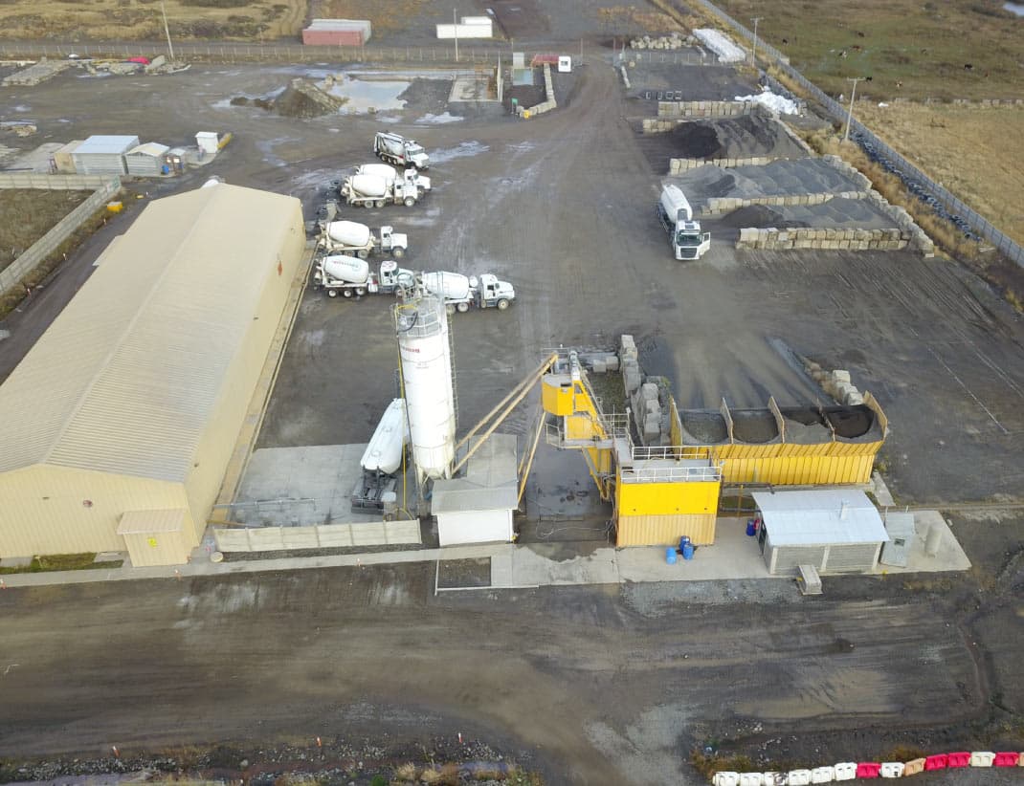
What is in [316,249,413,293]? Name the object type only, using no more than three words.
truck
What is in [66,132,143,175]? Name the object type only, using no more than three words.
shed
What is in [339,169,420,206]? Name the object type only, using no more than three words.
truck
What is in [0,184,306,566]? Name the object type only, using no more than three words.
warehouse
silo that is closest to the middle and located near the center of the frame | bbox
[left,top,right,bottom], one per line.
[395,287,466,509]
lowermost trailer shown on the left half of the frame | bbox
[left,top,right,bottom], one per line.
[350,393,412,510]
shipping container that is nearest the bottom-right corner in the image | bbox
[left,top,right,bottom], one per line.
[616,511,718,545]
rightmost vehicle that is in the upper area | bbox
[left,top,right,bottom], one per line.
[654,183,713,256]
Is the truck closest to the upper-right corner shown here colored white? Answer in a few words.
Yes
